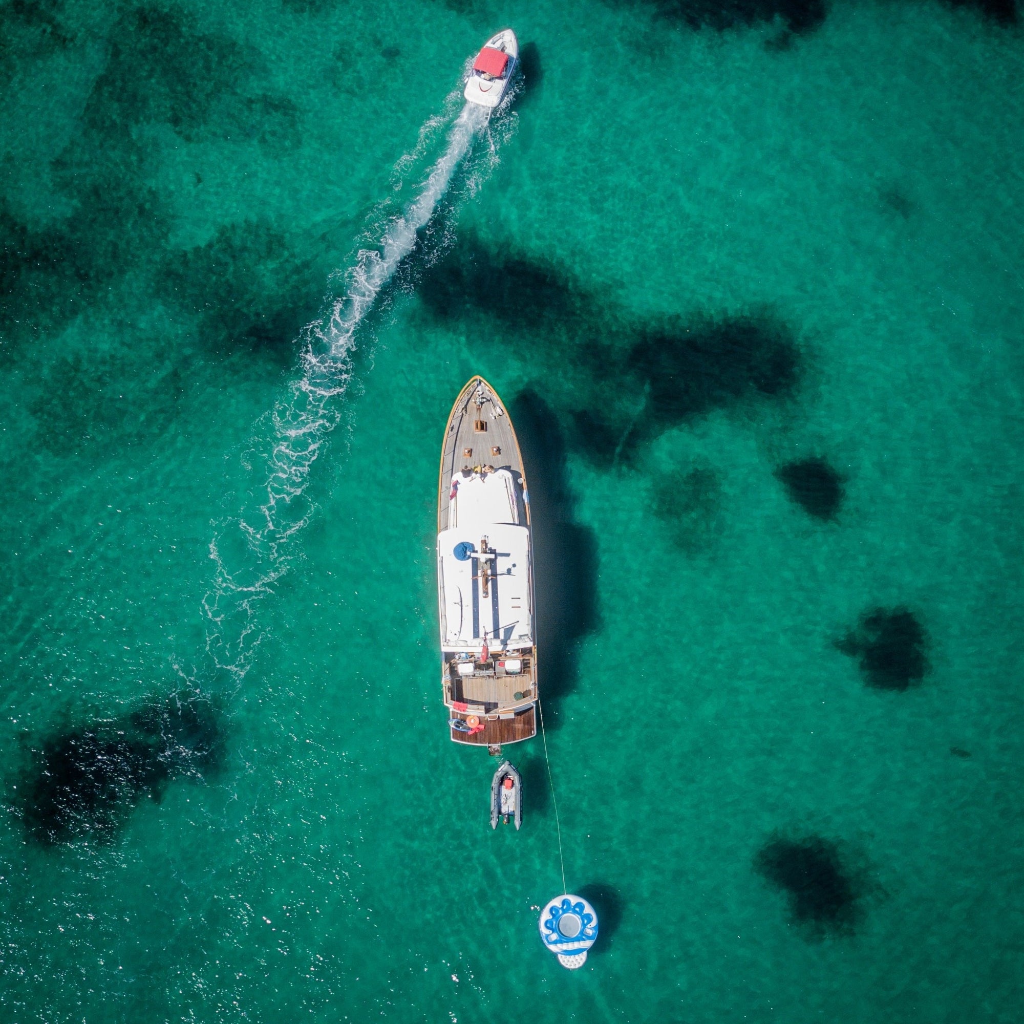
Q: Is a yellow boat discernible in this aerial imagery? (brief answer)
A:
No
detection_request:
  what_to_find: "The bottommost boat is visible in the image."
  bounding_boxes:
[490,760,523,830]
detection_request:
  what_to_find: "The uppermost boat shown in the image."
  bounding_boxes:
[464,27,518,126]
